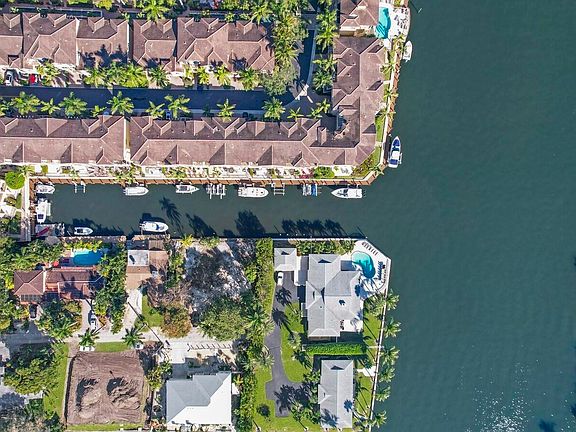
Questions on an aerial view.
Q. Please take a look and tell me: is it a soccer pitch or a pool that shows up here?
pool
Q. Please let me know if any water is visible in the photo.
Yes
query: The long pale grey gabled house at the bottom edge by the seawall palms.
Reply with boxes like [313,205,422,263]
[318,358,354,429]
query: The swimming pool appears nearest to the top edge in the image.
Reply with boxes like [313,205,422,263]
[375,4,393,40]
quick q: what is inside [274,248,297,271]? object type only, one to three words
building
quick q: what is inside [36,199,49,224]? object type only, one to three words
boat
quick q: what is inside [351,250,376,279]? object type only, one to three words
swimming pool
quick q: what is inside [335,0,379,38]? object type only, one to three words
house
